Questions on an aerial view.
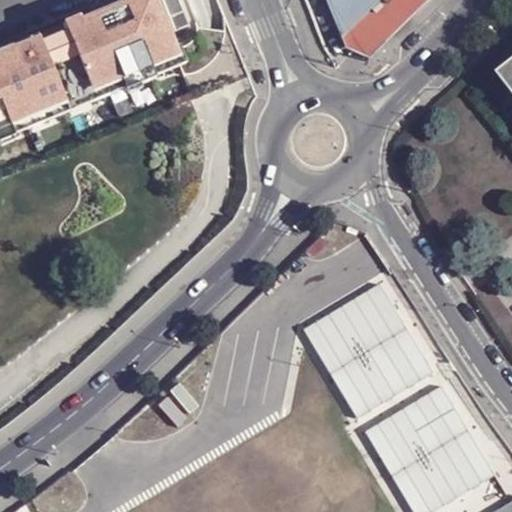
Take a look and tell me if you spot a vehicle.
Yes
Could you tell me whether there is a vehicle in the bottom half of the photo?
Yes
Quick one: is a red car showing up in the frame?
Yes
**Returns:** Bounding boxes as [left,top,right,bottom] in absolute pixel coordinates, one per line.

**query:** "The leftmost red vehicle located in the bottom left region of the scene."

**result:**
[62,392,84,410]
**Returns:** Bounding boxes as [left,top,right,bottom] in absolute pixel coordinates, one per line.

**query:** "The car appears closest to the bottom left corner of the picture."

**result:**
[15,428,36,446]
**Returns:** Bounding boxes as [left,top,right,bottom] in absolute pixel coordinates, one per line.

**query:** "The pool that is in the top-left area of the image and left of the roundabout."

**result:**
[72,114,88,133]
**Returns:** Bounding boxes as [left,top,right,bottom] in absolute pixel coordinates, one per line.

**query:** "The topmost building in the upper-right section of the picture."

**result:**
[326,0,432,58]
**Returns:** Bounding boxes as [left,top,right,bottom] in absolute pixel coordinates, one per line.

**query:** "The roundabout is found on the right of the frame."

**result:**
[254,52,412,234]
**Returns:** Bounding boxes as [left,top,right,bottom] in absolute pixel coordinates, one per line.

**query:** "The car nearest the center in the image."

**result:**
[290,260,305,272]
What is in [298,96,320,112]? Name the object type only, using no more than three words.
car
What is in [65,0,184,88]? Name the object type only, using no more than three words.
house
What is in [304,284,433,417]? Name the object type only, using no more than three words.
building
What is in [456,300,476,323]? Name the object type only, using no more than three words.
car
